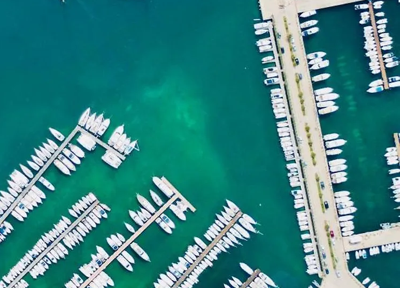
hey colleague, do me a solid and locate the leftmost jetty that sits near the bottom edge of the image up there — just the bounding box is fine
[6,198,99,288]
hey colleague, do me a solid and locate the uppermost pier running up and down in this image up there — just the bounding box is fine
[368,0,389,89]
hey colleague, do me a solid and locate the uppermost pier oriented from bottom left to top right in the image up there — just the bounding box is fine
[0,124,126,225]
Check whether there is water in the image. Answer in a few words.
Yes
